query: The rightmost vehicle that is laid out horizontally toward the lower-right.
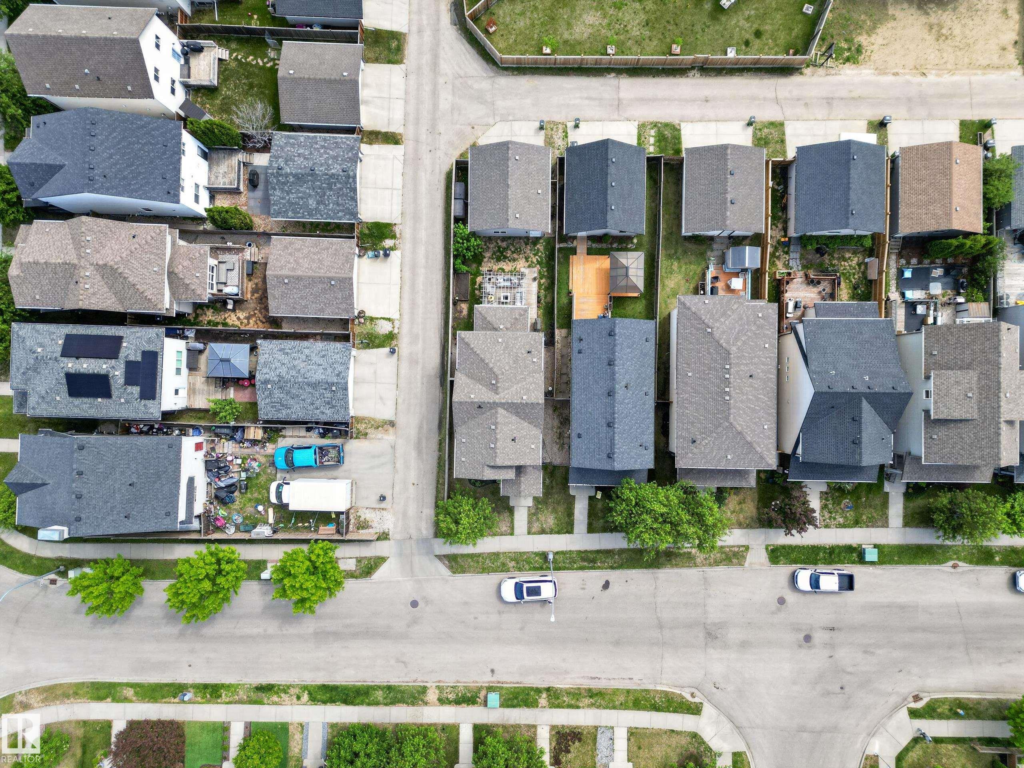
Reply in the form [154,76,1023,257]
[792,567,857,596]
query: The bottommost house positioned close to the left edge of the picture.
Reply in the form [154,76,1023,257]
[4,428,209,541]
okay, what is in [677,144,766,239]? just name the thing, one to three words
building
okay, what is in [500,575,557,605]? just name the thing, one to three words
car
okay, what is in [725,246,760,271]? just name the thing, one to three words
shed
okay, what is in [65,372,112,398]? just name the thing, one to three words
solar panel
